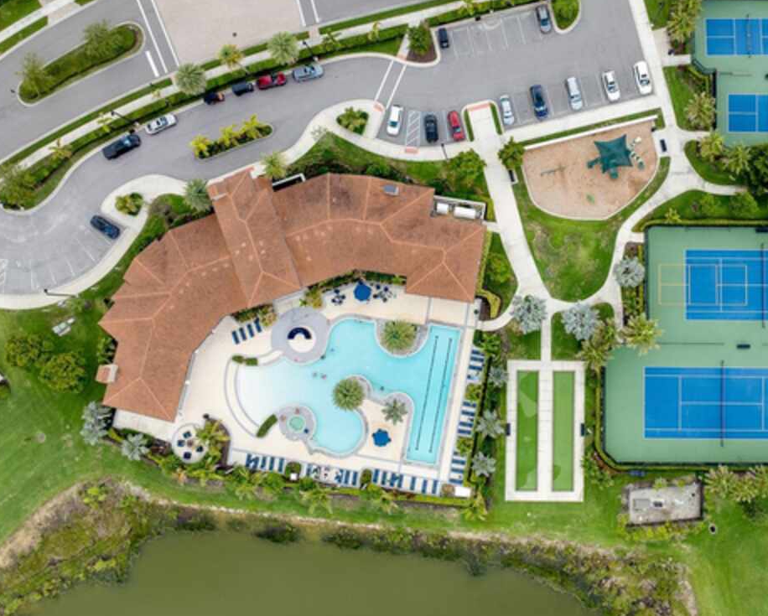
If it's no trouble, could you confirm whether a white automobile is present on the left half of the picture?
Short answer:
Yes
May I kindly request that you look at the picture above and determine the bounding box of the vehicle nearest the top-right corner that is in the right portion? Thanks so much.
[634,60,652,92]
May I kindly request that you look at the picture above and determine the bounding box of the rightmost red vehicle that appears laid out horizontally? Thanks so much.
[256,72,285,89]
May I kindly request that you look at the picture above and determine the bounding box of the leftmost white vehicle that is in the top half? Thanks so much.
[144,114,176,134]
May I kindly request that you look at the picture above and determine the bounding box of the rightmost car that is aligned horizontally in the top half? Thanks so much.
[291,63,324,80]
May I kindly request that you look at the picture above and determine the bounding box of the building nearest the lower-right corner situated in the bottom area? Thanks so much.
[630,483,704,527]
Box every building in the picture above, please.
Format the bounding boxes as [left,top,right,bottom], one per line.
[630,483,704,527]
[94,167,487,423]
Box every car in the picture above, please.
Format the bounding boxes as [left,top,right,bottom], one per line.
[567,78,583,108]
[447,110,463,140]
[424,112,438,142]
[229,79,254,95]
[386,105,401,134]
[256,72,285,89]
[531,85,548,116]
[536,3,552,32]
[604,70,620,101]
[437,26,448,47]
[634,60,652,92]
[291,63,324,80]
[88,215,118,238]
[499,94,514,125]
[144,114,176,134]
[201,89,226,105]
